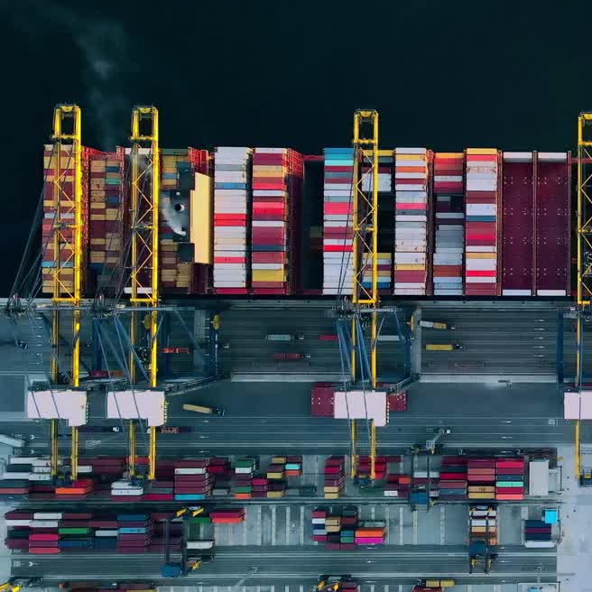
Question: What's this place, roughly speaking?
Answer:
port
